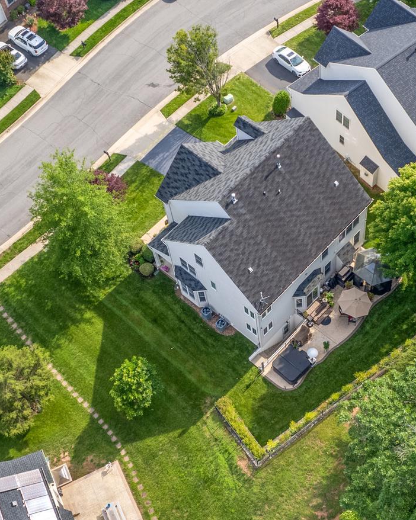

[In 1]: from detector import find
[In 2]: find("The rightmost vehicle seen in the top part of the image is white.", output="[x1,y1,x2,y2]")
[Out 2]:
[271,46,311,78]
